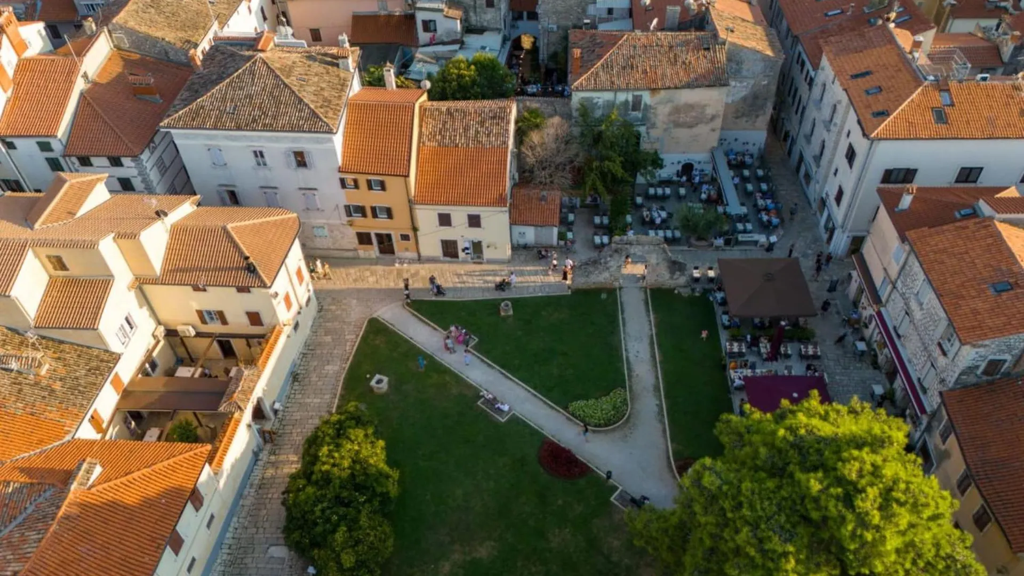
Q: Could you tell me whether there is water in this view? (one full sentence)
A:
No, there is no water in the image.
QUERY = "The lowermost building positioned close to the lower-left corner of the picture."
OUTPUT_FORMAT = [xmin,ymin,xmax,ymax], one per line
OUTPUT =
[0,437,233,576]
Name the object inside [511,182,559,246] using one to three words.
shed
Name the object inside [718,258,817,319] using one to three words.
umbrella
